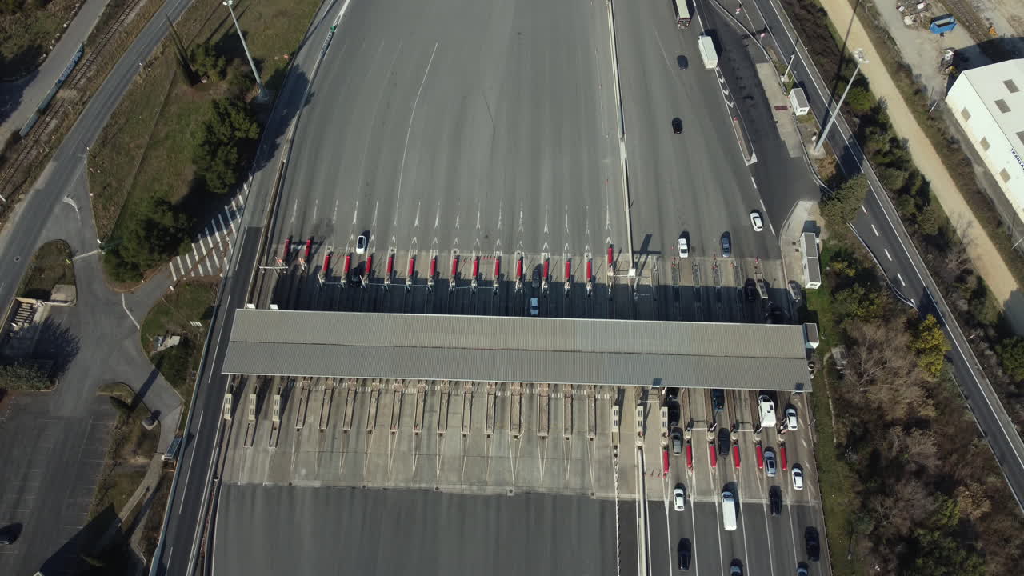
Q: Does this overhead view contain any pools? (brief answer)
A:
No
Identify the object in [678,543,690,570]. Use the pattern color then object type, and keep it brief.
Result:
black vehicle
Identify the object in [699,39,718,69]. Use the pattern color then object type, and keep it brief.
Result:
white vehicle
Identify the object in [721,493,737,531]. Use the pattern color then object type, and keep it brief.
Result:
white vehicle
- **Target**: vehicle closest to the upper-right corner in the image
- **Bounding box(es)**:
[983,19,1001,37]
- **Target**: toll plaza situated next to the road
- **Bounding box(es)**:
[203,242,821,506]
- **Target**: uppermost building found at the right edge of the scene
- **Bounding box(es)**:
[945,53,1024,221]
